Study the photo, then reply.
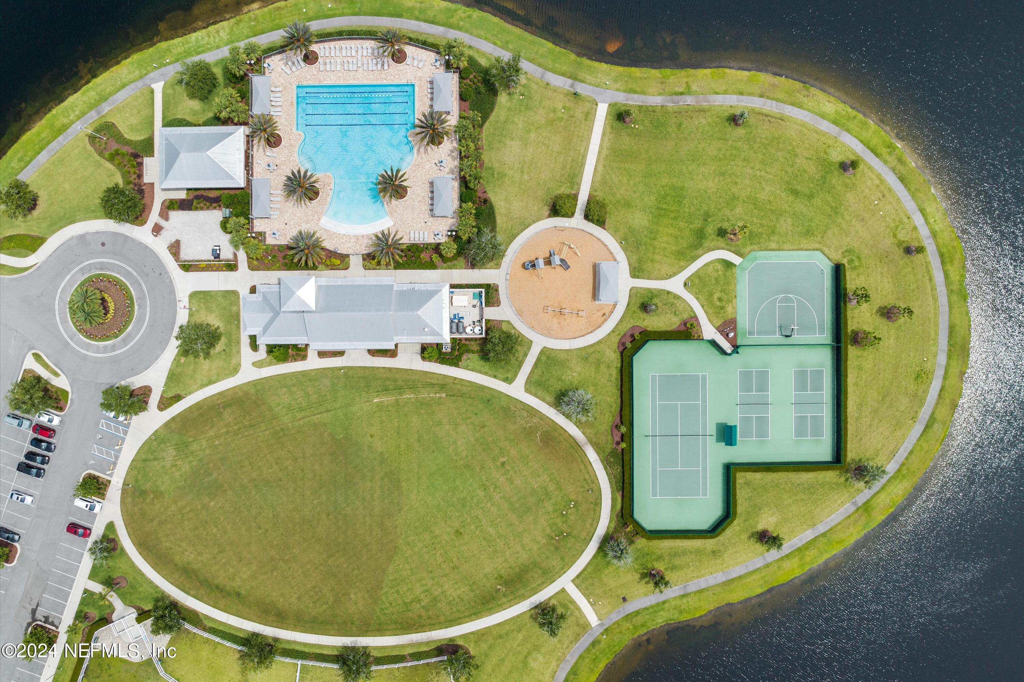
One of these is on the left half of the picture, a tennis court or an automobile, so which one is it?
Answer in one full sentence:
You can see an automobile on the left half of the picture.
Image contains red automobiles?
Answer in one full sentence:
Yes, a red automobile can be made out from above.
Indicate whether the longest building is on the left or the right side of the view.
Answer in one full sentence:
The longest building is on the left side of the image.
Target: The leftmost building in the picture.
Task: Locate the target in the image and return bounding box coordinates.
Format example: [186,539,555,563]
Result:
[159,125,249,191]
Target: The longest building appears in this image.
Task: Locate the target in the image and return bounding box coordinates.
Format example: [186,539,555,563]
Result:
[243,276,450,352]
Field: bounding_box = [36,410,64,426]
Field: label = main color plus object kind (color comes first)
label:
white car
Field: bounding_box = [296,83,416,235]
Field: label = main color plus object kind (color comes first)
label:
blue swimming pool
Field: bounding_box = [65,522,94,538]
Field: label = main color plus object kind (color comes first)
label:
red car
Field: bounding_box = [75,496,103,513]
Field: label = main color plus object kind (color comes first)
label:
white car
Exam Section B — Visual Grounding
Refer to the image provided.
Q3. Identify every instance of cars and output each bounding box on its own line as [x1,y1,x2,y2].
[75,496,103,513]
[36,410,64,426]
[0,526,23,542]
[12,401,40,416]
[23,449,52,466]
[8,489,37,505]
[31,436,58,452]
[33,423,59,439]
[2,412,34,430]
[65,522,94,538]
